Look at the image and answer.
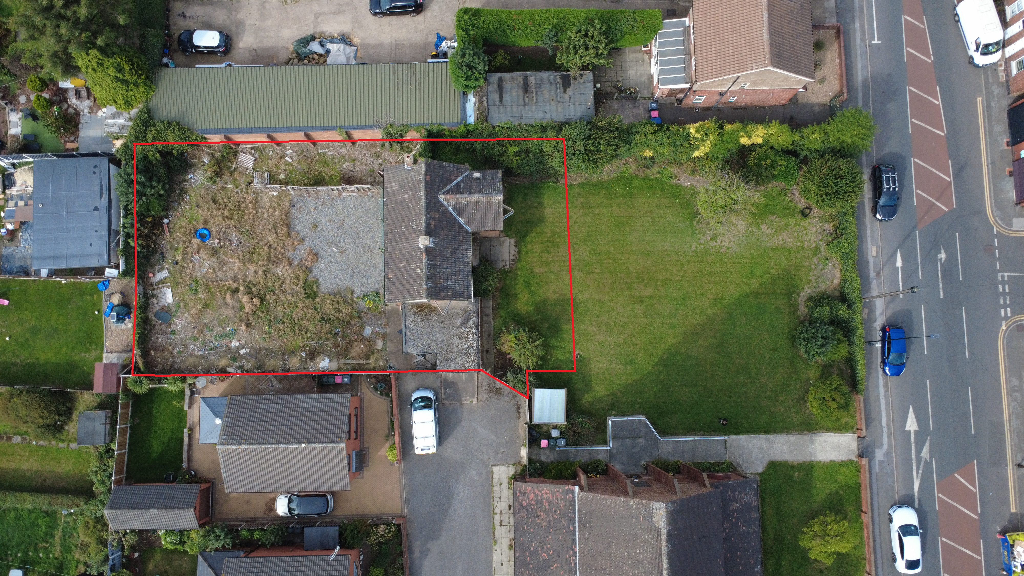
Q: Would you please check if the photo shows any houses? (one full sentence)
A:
Yes, there is a house in the image.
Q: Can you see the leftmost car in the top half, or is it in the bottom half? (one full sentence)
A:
It is in the top half that the leftmost car appears.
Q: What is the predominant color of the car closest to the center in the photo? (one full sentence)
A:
The color of the car closest to the center is white.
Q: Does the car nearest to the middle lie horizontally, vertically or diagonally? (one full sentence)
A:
I'd say the car nearest to the middle is aligned vertically in the picture.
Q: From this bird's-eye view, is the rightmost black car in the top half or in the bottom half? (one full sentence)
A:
The rightmost black car sits in the top half of the picture.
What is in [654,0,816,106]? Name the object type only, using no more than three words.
house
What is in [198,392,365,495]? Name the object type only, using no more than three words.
house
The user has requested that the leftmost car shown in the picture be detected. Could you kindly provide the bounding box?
[179,25,234,56]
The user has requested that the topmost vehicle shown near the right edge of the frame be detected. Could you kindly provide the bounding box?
[950,0,1005,70]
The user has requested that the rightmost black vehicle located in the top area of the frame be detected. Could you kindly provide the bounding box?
[868,167,901,223]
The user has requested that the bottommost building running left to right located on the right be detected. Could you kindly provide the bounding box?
[513,463,762,576]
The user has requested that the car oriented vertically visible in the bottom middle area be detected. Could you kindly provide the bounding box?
[409,389,439,454]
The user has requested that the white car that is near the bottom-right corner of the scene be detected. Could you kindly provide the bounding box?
[886,505,922,572]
